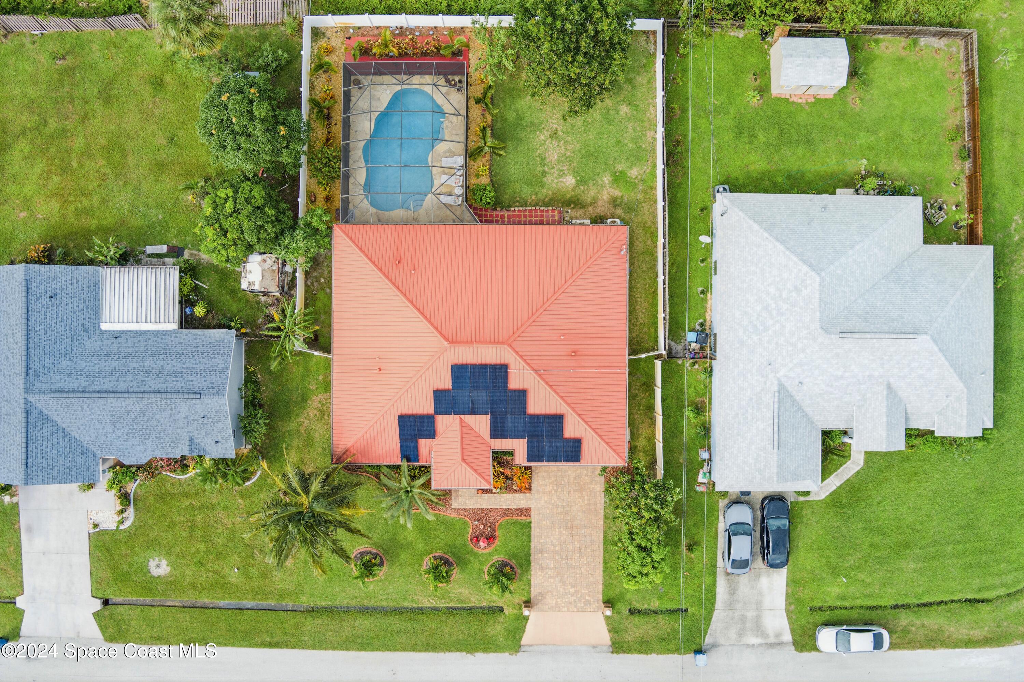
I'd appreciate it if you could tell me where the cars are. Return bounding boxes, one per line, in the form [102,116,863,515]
[759,494,795,569]
[722,500,758,574]
[816,621,892,658]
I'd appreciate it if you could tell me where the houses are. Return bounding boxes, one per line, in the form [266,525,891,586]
[330,223,633,491]
[706,192,994,491]
[0,262,244,488]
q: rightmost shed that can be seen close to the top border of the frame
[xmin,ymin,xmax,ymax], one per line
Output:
[771,33,854,95]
